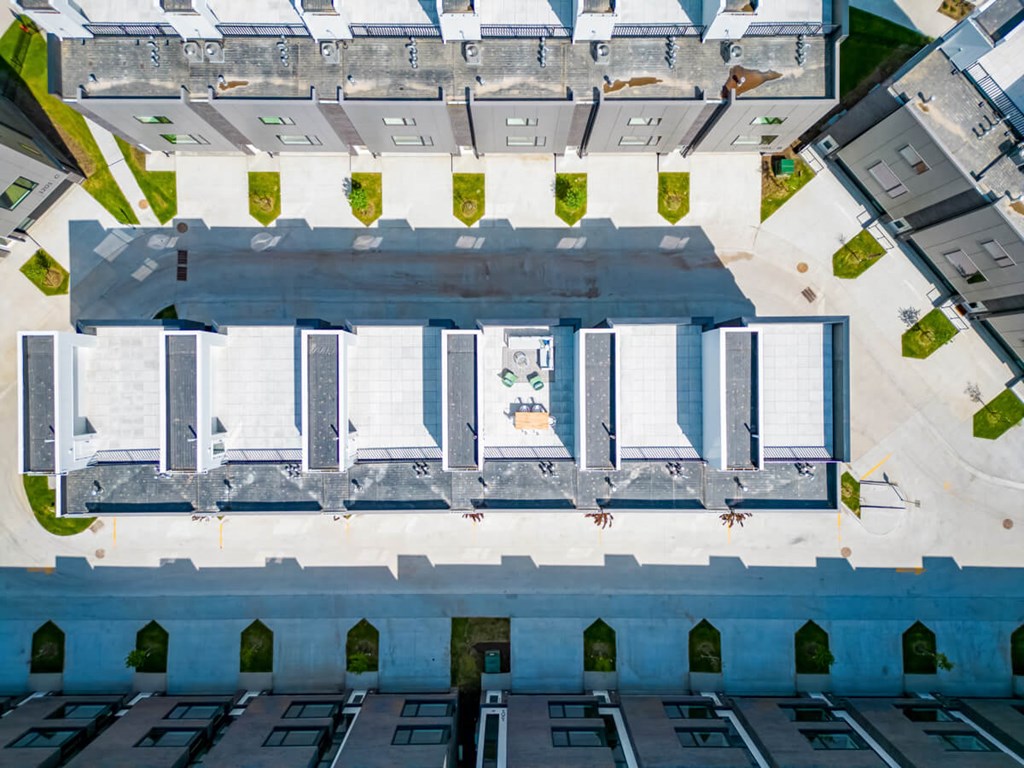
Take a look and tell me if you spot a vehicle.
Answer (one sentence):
No, the photo shows no vehicle.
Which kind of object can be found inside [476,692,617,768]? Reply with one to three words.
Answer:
house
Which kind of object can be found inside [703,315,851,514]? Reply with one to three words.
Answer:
house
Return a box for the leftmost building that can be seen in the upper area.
[0,100,89,257]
